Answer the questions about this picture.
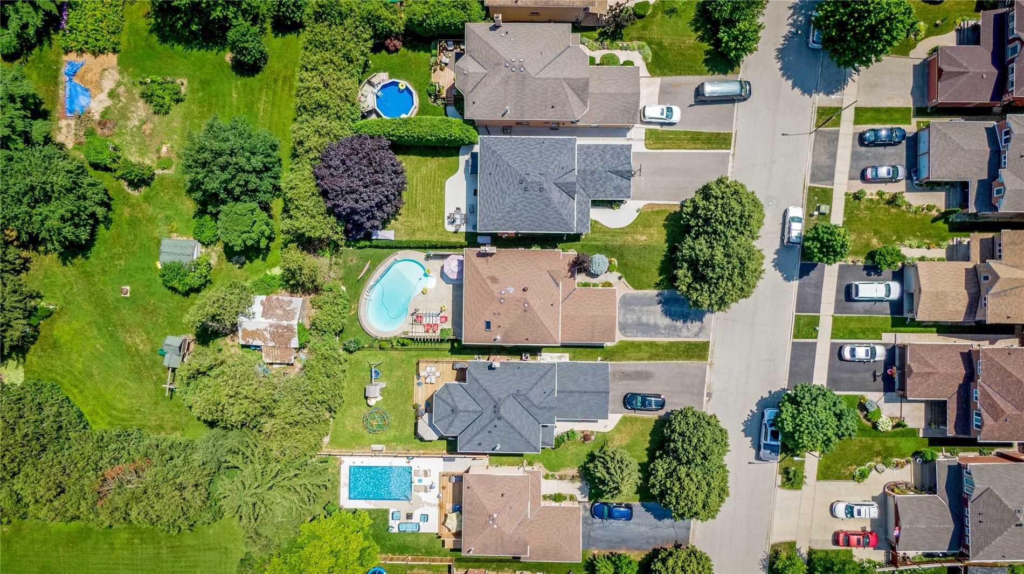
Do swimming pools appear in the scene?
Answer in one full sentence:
Yes, there is a swimming pool in the image.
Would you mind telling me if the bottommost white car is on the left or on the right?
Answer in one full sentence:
The bottommost white car appears in the right half of the scene.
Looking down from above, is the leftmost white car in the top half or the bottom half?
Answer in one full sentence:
Seen from above, the leftmost white car lies in the top half of the view.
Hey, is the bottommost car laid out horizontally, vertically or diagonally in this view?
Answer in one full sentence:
Seen from above, the bottommost car lies horizontally.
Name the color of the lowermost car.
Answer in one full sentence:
From above, the lowermost car appears red.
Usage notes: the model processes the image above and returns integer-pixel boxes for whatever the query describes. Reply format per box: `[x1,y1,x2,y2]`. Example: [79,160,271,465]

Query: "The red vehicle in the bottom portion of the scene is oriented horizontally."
[834,528,877,550]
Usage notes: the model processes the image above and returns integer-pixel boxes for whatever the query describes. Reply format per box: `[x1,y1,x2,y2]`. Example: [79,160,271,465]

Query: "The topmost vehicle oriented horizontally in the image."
[694,78,749,102]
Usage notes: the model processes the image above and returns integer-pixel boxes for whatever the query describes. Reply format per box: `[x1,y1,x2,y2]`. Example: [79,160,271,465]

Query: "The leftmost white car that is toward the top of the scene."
[641,103,680,124]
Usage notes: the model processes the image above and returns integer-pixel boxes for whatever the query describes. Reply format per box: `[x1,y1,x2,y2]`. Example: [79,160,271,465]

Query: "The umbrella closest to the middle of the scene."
[439,251,463,283]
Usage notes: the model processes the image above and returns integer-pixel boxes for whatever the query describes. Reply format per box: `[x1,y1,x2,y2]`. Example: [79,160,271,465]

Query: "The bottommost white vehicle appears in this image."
[831,499,879,521]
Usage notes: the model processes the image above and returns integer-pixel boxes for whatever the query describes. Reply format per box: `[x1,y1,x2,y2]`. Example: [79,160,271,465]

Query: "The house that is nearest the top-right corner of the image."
[927,0,1024,105]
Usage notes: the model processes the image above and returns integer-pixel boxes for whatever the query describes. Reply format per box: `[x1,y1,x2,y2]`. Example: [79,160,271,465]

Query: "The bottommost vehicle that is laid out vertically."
[758,406,783,461]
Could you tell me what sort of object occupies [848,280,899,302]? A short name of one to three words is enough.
car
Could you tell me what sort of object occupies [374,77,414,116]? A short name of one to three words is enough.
swimming pool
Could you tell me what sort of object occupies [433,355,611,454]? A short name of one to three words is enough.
house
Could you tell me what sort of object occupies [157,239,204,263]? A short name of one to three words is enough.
shed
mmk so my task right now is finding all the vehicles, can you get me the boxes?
[834,528,877,550]
[589,501,632,523]
[848,280,899,302]
[641,103,680,124]
[758,406,783,461]
[622,392,665,413]
[861,163,904,183]
[694,78,749,102]
[839,343,884,364]
[781,206,805,248]
[831,499,879,521]
[858,126,904,146]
